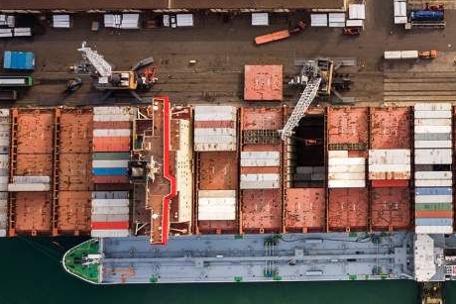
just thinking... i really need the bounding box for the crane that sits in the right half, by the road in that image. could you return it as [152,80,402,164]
[282,60,359,140]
